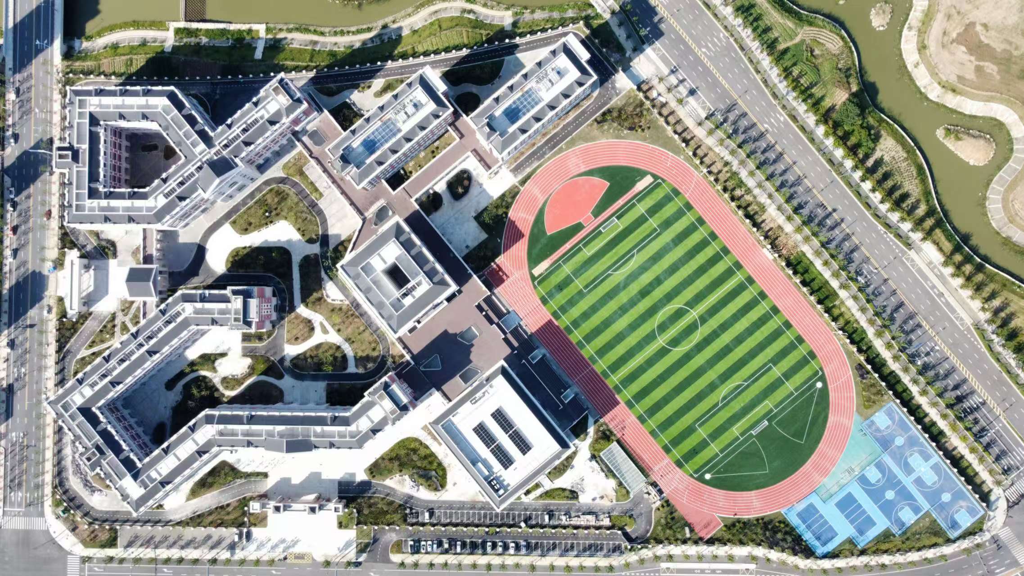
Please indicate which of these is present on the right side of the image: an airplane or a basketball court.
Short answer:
basketball court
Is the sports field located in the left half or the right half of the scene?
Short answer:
right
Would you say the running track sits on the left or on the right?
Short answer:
right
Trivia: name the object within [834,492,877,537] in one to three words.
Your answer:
sports court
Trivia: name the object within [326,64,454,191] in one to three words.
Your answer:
building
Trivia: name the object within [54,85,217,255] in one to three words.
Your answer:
building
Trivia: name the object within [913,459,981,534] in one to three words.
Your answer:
basketball court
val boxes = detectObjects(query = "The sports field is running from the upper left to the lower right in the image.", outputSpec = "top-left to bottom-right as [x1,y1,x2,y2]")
[529,165,827,490]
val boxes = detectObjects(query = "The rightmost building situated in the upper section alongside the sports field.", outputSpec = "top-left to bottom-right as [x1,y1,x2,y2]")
[468,32,598,167]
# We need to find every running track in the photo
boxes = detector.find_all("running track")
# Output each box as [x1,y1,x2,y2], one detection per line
[502,139,854,539]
